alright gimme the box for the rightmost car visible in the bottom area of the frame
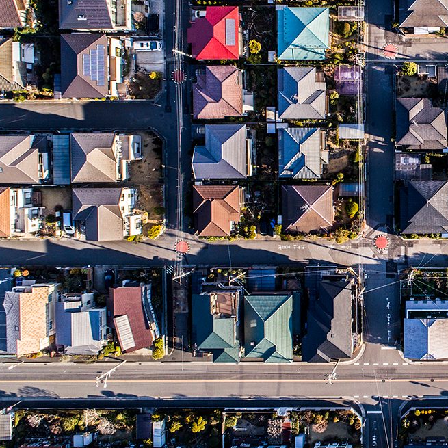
[101,264,114,291]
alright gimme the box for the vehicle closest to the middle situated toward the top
[187,125,205,137]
